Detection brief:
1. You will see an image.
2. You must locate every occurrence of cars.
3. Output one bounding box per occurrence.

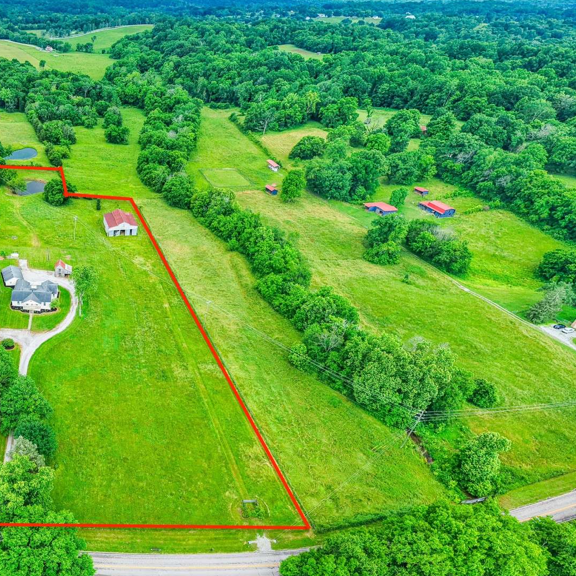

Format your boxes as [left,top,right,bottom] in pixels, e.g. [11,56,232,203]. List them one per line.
[564,329,575,334]
[555,324,567,330]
